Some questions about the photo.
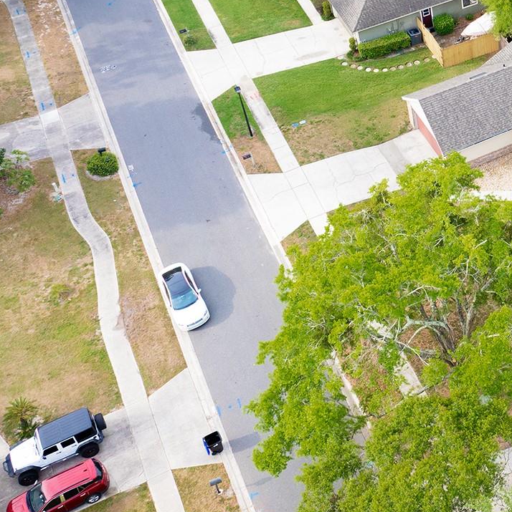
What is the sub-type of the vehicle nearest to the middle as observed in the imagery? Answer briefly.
car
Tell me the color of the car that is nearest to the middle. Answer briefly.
white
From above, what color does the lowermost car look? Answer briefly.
red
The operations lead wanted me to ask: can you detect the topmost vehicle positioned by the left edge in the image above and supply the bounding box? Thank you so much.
[9,413,100,482]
